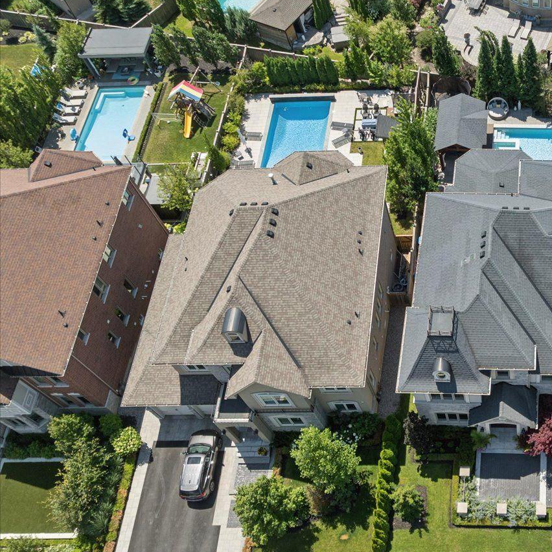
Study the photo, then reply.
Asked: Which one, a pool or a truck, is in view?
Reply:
pool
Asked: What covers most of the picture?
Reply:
buildings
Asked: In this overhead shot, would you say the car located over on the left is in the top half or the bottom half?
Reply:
bottom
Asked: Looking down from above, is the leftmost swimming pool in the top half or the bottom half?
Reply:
top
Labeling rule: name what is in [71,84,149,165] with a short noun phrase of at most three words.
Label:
swimming pool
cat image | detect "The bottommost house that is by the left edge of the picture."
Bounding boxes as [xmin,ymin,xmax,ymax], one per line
[0,148,164,472]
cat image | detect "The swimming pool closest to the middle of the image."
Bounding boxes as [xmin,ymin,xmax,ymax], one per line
[255,94,336,167]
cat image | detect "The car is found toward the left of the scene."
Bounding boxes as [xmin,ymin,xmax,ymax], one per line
[170,429,222,505]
